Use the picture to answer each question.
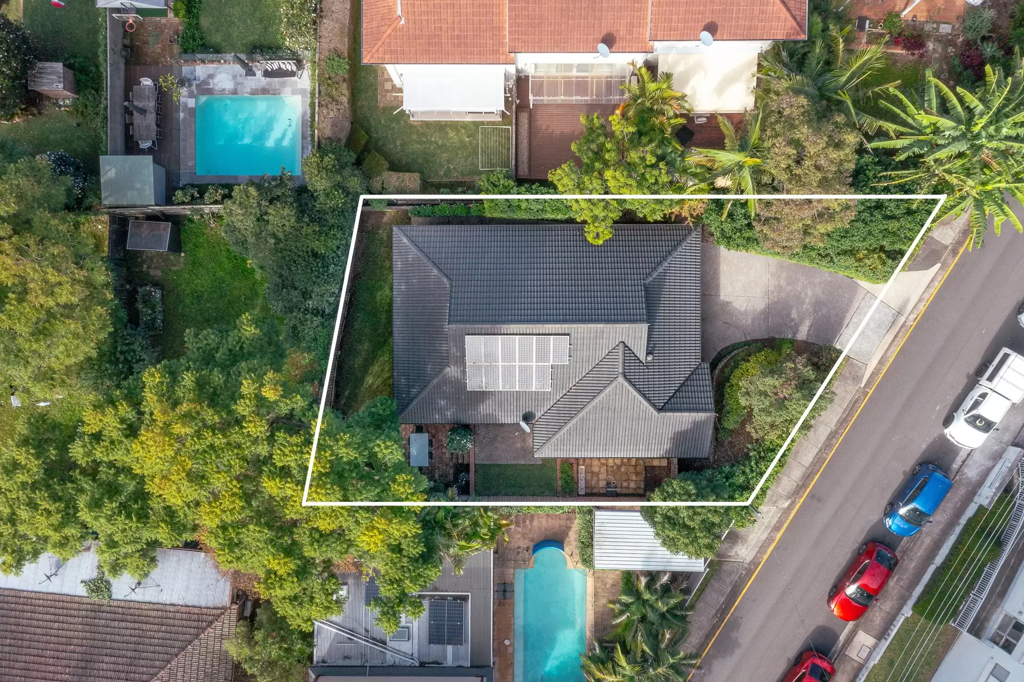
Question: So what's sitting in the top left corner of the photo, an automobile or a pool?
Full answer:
Visible in the top left corner of the photo is a pool.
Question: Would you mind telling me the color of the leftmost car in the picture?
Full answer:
The leftmost car looks red in the image.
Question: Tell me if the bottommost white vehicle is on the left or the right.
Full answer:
The bottommost white vehicle is on the right side of the image.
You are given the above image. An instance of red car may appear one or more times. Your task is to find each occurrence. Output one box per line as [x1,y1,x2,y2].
[785,652,835,682]
[828,541,901,626]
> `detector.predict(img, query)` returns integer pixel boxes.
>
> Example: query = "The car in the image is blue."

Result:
[886,461,956,542]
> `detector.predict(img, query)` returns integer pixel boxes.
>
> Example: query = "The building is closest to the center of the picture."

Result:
[391,223,717,460]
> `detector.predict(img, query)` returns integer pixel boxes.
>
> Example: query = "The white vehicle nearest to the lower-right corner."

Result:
[949,343,1024,446]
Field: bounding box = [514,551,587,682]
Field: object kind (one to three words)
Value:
swimming pool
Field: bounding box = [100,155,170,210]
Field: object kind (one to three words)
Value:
shed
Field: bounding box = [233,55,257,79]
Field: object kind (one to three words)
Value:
umbrella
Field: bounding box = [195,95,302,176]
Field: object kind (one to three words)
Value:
swimming pool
